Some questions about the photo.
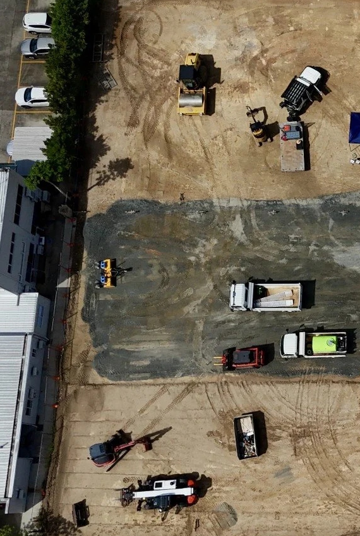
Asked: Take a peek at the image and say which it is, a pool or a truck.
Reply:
truck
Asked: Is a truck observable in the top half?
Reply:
Yes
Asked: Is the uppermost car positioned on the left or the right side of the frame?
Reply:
left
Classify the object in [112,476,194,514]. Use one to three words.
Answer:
work vehicle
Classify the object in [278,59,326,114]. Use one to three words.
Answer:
truck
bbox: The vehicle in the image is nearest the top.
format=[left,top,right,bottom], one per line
[25,13,65,38]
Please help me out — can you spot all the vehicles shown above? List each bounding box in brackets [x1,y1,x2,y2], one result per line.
[92,427,158,474]
[246,105,274,141]
[112,476,194,514]
[18,84,64,110]
[278,328,351,361]
[176,54,207,117]
[278,59,326,114]
[24,34,65,62]
[216,346,265,372]
[25,13,65,38]
[226,279,307,314]
[96,258,122,286]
